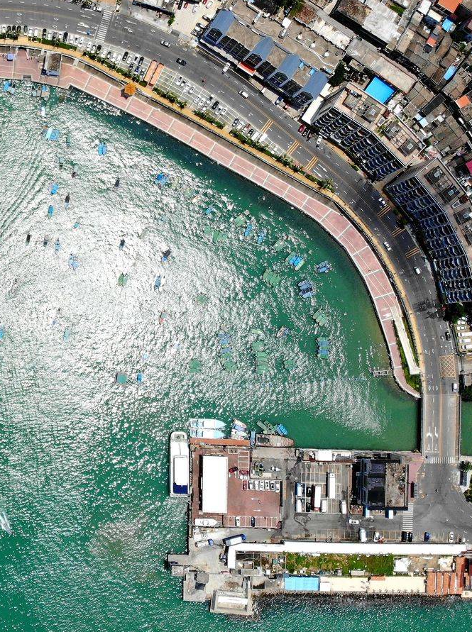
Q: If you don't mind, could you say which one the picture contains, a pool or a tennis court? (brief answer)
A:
pool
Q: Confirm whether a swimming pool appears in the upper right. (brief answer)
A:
Yes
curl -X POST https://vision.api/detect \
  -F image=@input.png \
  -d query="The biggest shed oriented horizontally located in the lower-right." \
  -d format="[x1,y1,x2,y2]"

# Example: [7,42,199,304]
[281,538,468,556]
